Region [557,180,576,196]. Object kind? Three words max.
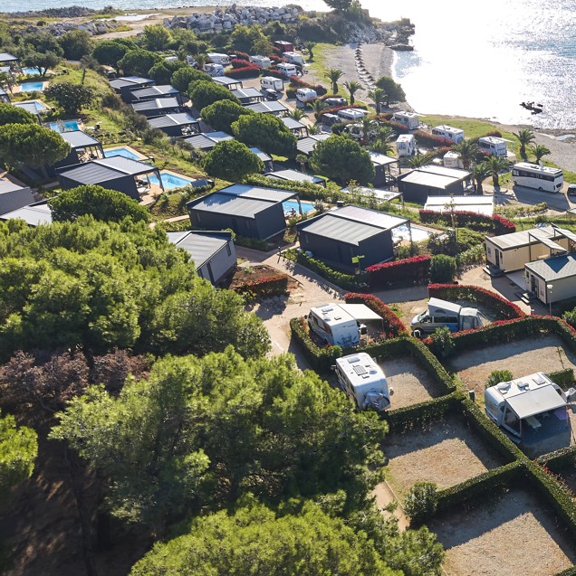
car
